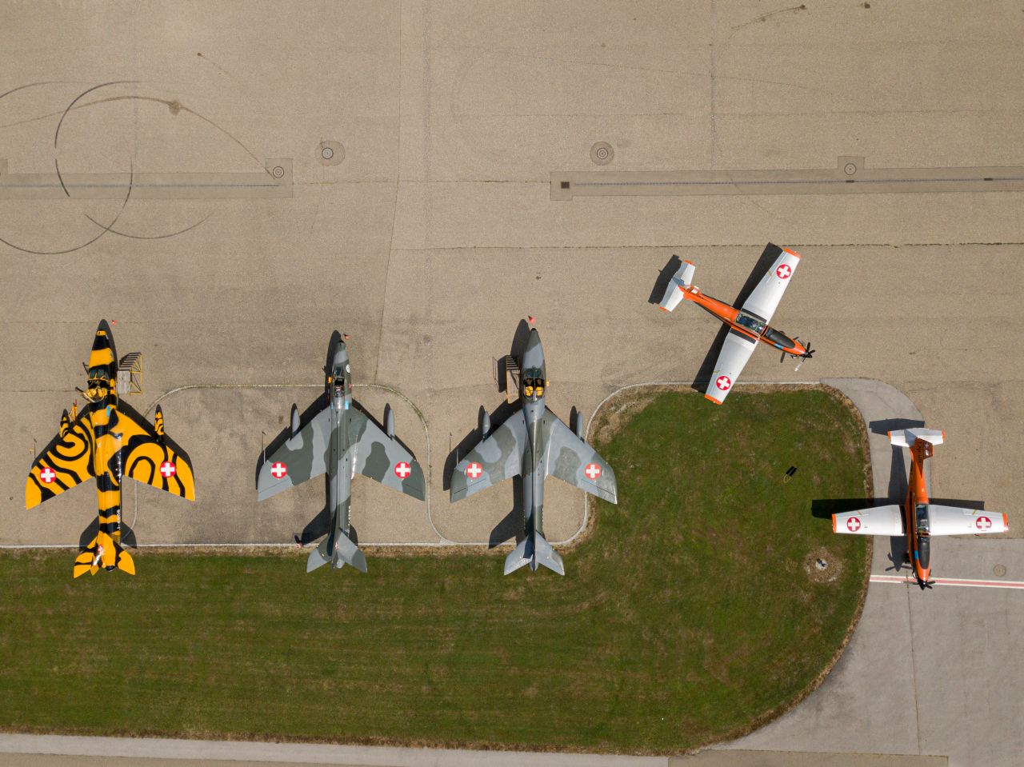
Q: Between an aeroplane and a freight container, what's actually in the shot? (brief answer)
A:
aeroplane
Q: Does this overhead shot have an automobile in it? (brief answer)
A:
No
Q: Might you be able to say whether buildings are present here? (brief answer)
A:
No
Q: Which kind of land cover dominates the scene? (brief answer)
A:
paved ground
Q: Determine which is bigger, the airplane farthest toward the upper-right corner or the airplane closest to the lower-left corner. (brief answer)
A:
the airplane closest to the lower-left corner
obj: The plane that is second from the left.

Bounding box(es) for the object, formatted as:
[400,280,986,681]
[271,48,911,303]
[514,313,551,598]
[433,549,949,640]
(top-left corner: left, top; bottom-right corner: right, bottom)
[258,339,426,573]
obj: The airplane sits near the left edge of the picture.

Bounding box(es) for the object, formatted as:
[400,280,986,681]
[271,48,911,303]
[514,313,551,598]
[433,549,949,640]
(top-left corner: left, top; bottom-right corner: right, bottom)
[27,330,195,579]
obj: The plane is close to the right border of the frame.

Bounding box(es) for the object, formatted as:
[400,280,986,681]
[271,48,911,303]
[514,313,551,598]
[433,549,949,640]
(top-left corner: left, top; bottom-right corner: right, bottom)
[833,427,1005,591]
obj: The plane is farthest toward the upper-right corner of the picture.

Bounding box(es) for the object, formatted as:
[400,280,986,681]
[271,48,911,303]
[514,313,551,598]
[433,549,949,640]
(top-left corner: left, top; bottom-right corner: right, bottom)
[658,247,818,404]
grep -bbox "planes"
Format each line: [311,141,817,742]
[833,427,1005,591]
[27,330,195,579]
[658,247,818,404]
[450,327,618,575]
[258,339,426,573]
